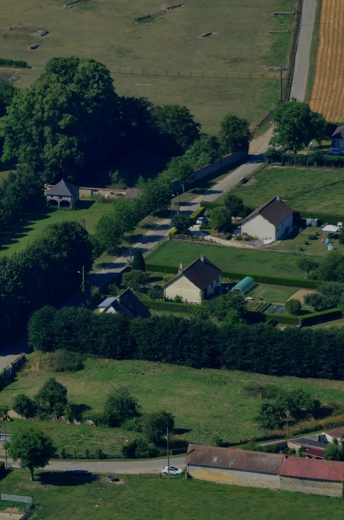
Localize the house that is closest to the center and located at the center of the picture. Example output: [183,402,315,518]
[163,249,218,303]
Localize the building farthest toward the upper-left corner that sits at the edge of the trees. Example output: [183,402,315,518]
[45,178,78,208]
